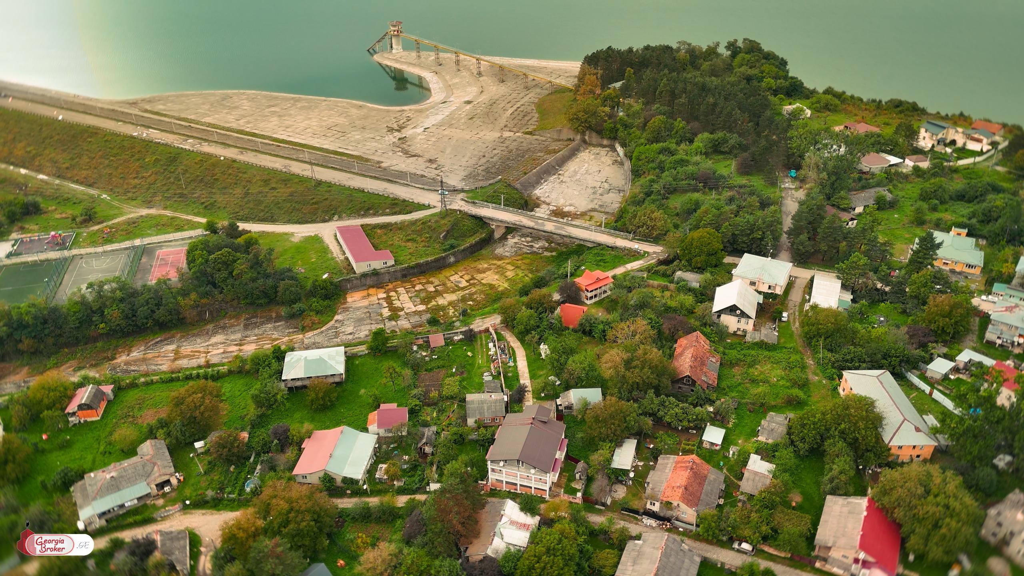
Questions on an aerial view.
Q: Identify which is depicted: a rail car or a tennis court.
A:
tennis court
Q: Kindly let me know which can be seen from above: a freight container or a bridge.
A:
bridge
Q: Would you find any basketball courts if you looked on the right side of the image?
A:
No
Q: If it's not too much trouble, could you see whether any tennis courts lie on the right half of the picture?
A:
No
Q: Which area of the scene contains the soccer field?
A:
left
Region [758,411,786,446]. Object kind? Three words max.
shed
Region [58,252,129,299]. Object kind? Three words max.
basketball court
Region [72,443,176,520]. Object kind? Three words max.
house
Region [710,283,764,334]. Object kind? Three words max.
house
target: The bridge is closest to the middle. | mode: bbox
[459,200,656,253]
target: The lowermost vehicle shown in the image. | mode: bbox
[734,543,755,556]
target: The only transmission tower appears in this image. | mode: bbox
[436,169,449,213]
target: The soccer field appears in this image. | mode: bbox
[0,254,67,307]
